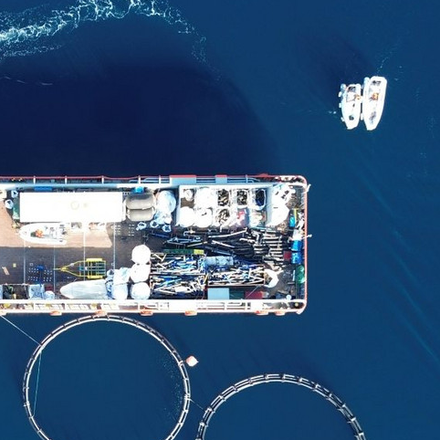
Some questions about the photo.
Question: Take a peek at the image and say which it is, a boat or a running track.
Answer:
boat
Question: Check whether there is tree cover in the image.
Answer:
No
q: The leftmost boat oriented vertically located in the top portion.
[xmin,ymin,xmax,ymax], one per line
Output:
[338,80,364,130]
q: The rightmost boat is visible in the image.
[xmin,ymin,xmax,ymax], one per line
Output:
[362,72,389,131]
